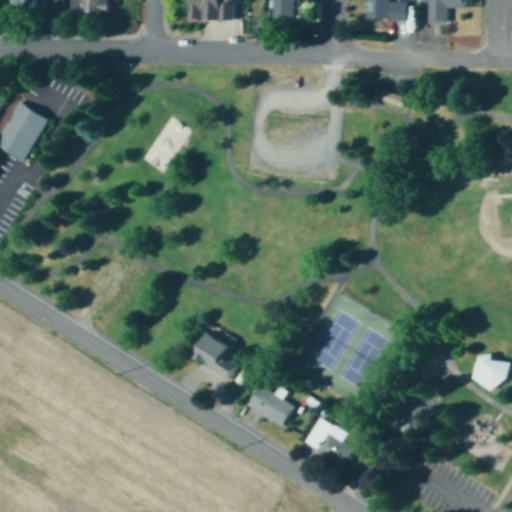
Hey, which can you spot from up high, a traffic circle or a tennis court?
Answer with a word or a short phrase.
tennis court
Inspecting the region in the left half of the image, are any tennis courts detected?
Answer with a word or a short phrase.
No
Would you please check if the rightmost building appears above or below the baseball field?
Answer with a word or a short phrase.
below it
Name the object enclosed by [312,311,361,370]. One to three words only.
tennis court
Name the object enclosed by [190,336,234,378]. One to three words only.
house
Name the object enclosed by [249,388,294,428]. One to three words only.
house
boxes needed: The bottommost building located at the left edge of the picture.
[0,103,47,159]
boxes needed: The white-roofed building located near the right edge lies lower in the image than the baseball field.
[473,354,512,392]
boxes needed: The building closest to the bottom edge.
[306,418,350,460]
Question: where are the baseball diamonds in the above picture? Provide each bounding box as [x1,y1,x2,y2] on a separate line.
[480,190,512,256]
